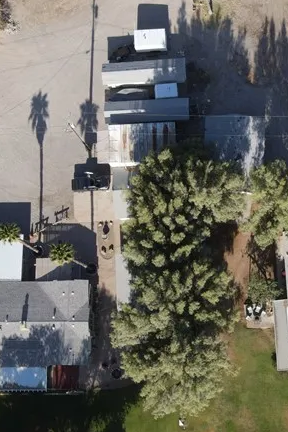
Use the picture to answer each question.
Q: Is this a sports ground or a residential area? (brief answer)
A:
residential area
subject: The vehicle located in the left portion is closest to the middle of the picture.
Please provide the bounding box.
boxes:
[73,177,112,192]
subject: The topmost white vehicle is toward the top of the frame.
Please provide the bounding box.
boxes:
[131,28,169,60]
